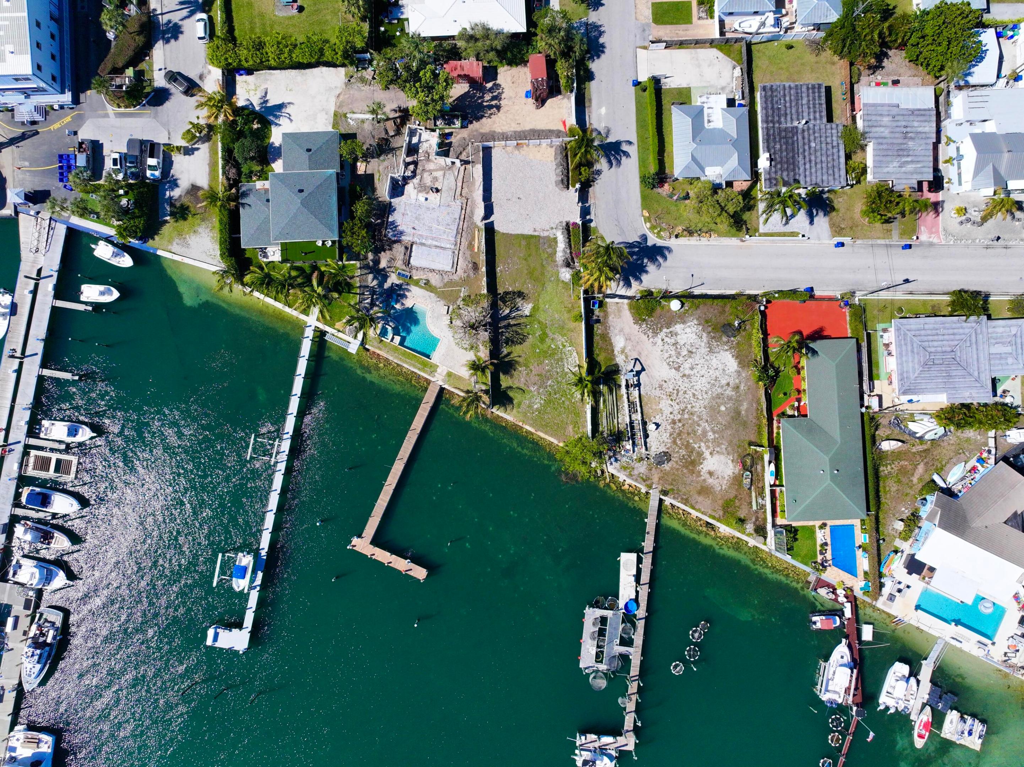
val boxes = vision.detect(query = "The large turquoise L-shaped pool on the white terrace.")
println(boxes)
[913,585,1010,645]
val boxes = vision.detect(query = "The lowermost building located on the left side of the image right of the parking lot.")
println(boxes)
[240,131,345,265]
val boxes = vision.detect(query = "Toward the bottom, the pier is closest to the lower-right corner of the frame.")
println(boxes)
[938,708,986,749]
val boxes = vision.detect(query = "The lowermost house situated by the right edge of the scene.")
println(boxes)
[908,461,1024,605]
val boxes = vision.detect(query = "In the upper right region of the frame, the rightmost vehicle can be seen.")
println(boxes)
[930,167,949,192]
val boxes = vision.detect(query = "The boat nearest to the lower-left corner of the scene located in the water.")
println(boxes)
[5,725,56,767]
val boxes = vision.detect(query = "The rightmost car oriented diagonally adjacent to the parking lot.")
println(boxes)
[161,70,195,98]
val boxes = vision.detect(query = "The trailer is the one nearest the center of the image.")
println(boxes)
[622,367,647,457]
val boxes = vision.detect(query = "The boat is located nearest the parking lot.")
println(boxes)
[88,240,135,266]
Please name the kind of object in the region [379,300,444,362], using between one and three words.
swimming pool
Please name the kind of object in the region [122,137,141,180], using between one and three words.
car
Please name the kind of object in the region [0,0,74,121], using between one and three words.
building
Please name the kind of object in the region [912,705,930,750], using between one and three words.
boat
